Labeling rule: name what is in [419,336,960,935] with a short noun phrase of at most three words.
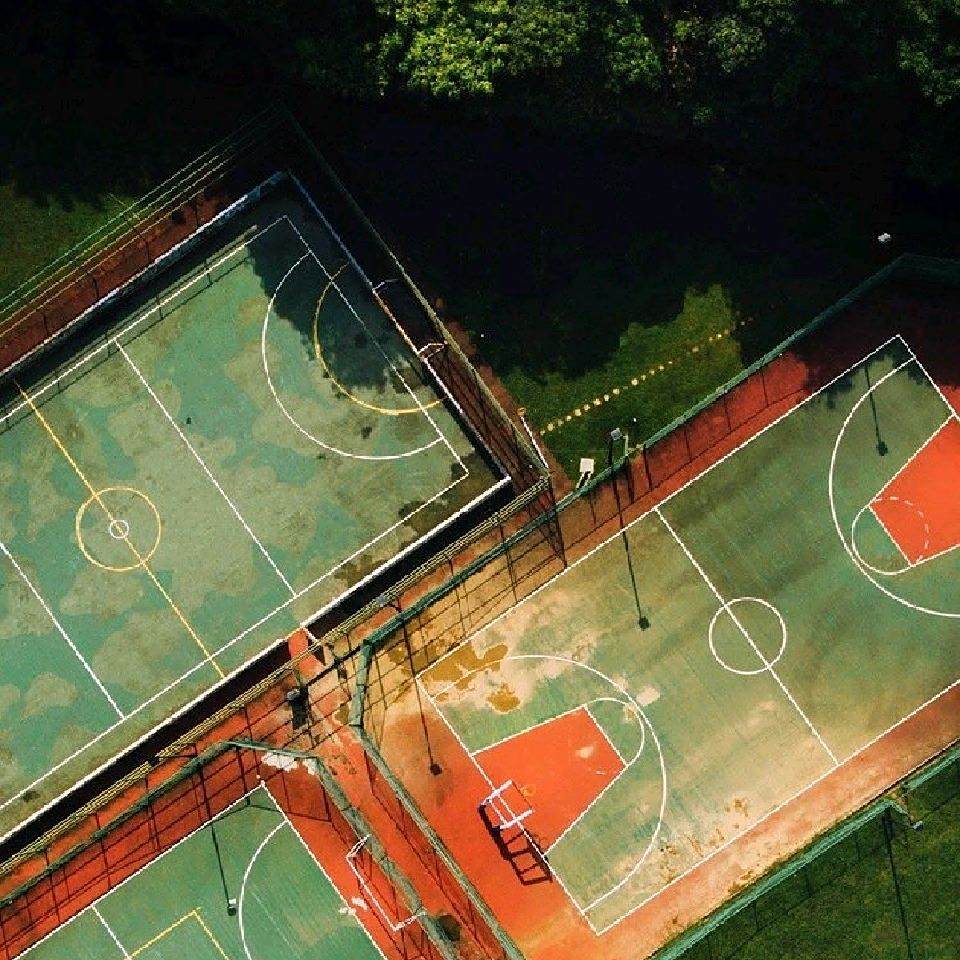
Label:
basketball court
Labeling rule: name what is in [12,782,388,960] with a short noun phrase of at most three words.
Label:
sports court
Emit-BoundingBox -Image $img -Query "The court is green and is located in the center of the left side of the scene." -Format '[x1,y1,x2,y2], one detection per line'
[0,175,503,834]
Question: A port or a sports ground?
sports ground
